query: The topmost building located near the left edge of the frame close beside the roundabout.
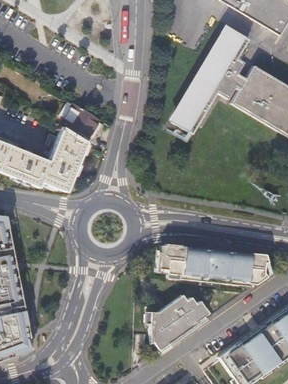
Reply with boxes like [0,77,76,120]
[0,127,92,196]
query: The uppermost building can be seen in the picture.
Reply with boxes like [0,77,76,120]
[216,0,288,38]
